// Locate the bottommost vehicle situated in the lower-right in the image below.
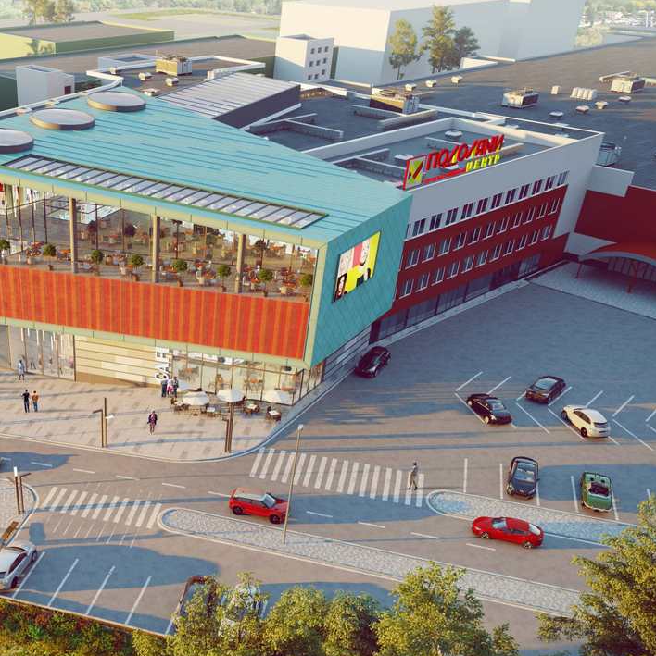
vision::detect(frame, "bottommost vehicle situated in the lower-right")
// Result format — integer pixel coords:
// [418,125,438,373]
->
[474,512,546,545]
